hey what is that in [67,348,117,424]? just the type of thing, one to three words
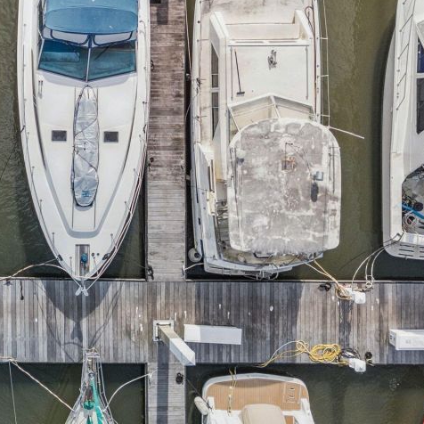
boat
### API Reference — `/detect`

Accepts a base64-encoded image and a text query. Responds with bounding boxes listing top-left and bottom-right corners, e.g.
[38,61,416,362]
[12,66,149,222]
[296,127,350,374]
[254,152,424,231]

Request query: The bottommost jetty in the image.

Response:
[144,365,187,424]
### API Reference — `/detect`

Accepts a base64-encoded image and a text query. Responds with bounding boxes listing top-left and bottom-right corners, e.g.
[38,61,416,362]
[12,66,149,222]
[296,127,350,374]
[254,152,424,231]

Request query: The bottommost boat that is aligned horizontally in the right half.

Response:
[197,371,314,424]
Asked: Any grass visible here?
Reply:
No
